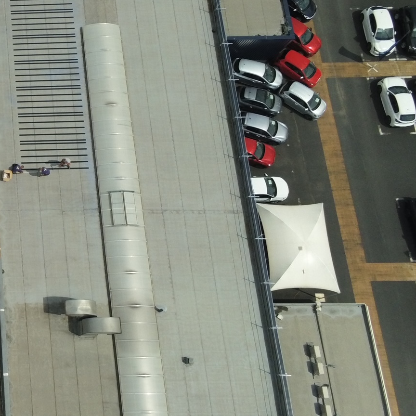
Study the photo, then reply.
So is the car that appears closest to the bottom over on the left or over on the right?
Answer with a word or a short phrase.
right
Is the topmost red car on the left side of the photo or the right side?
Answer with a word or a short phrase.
right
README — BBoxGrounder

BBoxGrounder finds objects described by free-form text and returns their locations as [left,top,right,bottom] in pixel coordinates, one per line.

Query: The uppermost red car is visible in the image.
[290,14,328,58]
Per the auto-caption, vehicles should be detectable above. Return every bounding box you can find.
[244,113,291,150]
[274,46,328,90]
[277,79,333,123]
[238,86,284,120]
[234,60,285,95]
[255,173,292,204]
[248,138,280,171]
[363,10,402,61]
[290,14,328,58]
[289,0,321,25]
[375,76,416,128]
